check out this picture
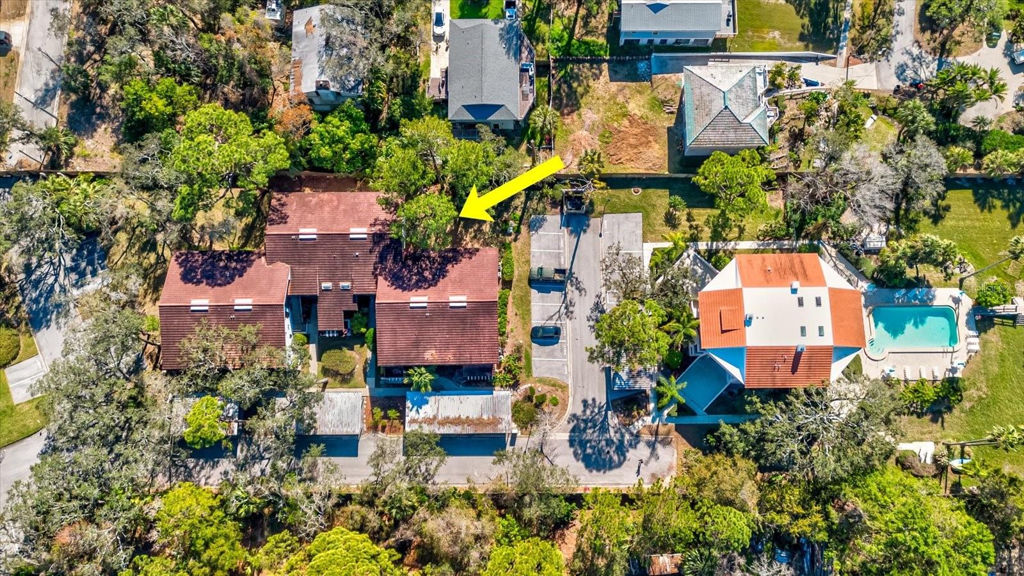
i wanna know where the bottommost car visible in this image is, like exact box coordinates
[530,326,561,341]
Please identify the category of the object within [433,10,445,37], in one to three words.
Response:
vehicle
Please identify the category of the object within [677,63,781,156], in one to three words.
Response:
house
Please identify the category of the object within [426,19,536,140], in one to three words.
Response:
house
